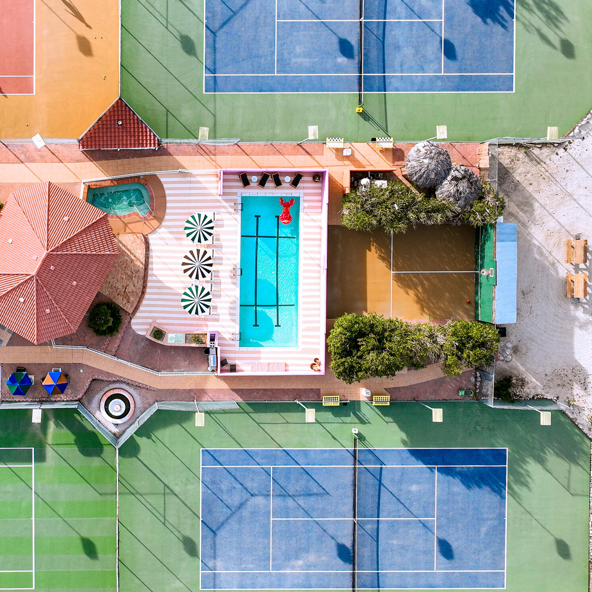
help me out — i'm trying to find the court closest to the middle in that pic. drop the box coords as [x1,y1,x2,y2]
[331,224,477,320]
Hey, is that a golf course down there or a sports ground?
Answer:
sports ground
